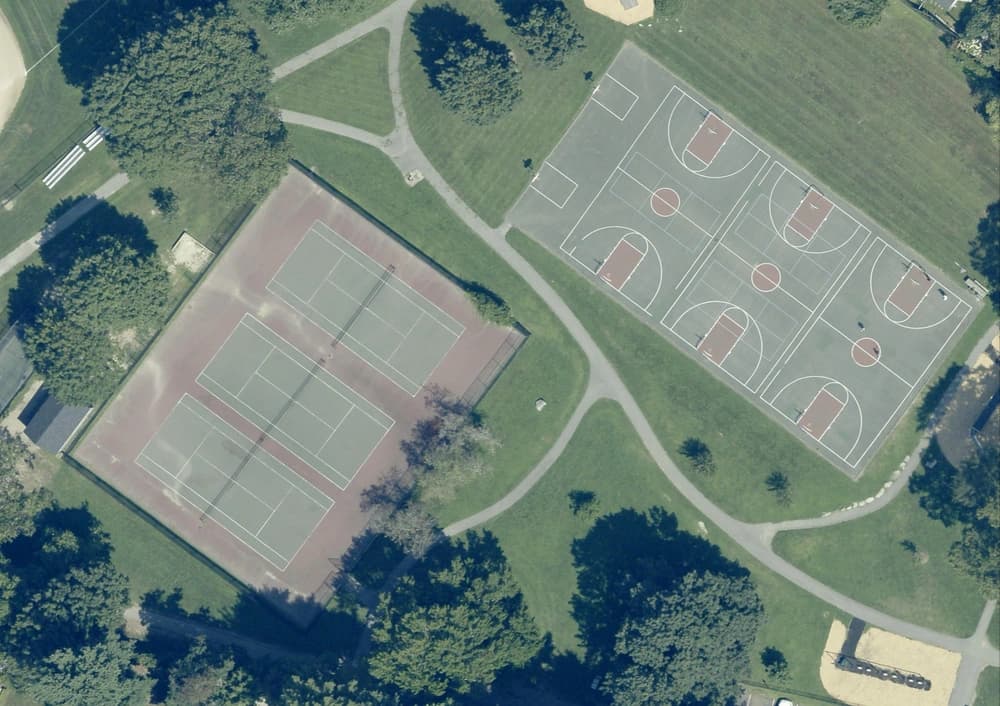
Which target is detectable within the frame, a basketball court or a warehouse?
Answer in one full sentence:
There is a basketball court in the scene.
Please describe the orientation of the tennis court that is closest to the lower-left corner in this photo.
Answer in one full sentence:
The tennis court that is closest to the lower-left corner has been laid out on a diagonal relative to the frame.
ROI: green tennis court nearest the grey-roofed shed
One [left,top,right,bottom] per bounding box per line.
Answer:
[136,393,335,571]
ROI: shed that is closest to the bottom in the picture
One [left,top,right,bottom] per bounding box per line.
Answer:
[24,388,90,453]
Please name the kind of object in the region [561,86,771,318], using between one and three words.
basketball court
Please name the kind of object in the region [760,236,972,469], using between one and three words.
basketball court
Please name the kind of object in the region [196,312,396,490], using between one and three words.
tennis court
